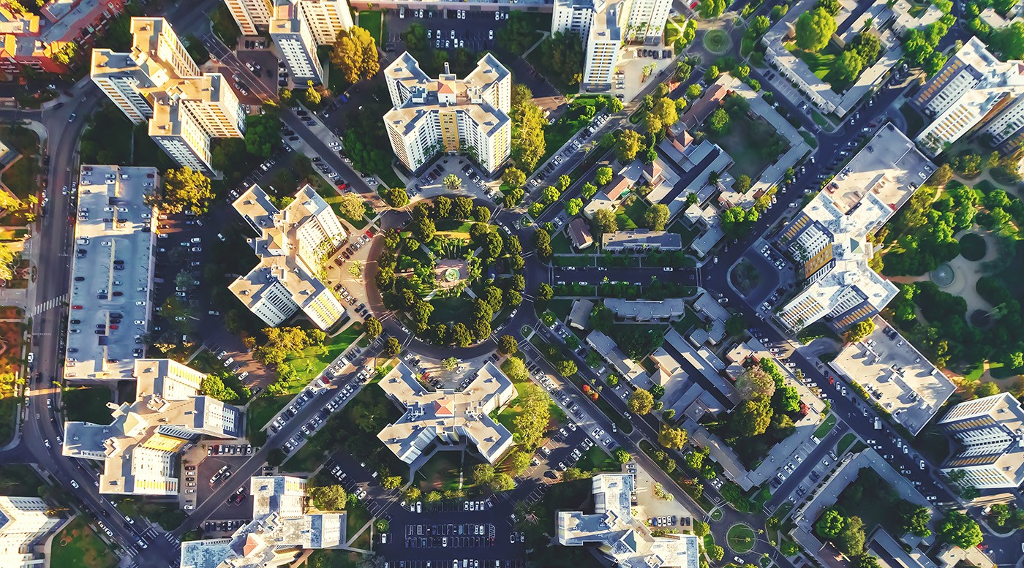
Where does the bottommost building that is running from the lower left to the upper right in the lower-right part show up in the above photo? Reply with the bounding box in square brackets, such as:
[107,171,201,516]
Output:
[790,449,872,530]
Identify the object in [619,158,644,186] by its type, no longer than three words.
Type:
building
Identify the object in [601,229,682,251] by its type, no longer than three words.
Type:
building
